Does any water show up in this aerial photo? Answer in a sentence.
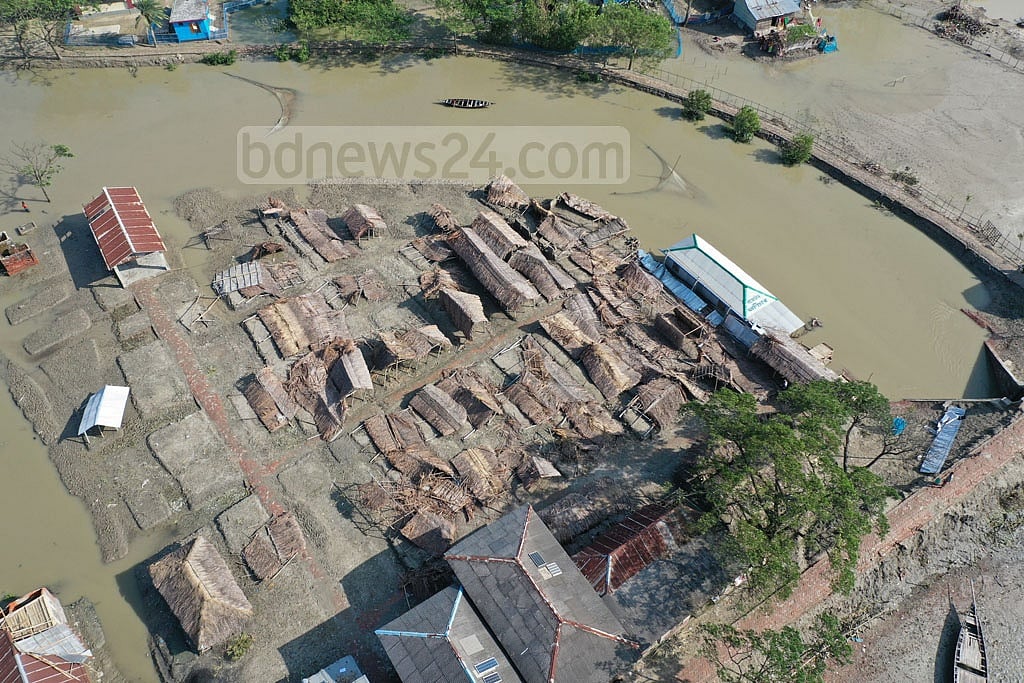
Yes, there is water in the image.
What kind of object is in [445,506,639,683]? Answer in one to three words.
building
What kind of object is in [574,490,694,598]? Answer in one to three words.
house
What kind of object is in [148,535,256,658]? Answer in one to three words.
house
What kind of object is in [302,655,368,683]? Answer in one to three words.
shed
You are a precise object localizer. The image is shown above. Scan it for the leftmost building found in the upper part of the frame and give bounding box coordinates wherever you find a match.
[82,186,170,288]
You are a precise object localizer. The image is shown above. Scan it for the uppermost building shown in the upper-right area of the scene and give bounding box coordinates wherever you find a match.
[727,0,801,37]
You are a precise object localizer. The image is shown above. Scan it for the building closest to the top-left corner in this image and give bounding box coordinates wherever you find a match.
[170,0,214,43]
